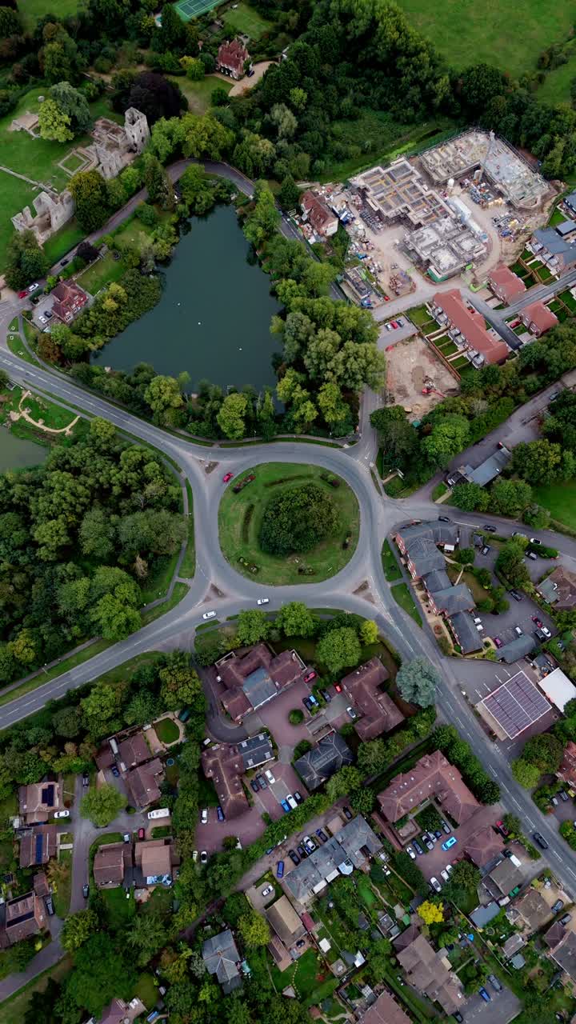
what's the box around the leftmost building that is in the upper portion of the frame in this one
[50,281,90,324]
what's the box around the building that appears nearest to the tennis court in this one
[214,37,253,83]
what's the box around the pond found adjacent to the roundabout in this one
[90,204,285,396]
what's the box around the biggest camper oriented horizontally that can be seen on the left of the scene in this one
[147,807,171,819]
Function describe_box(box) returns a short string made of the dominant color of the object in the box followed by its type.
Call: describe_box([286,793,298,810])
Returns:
white vehicle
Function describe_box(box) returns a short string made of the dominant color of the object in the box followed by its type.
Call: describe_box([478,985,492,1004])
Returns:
blue car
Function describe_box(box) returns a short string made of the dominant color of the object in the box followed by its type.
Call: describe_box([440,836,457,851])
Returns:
blue vehicle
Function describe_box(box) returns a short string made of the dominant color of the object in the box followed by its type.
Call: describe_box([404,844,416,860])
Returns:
white vehicle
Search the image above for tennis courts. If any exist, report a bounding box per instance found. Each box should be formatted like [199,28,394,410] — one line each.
[174,0,225,21]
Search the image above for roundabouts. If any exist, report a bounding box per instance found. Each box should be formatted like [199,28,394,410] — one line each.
[178,440,387,622]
